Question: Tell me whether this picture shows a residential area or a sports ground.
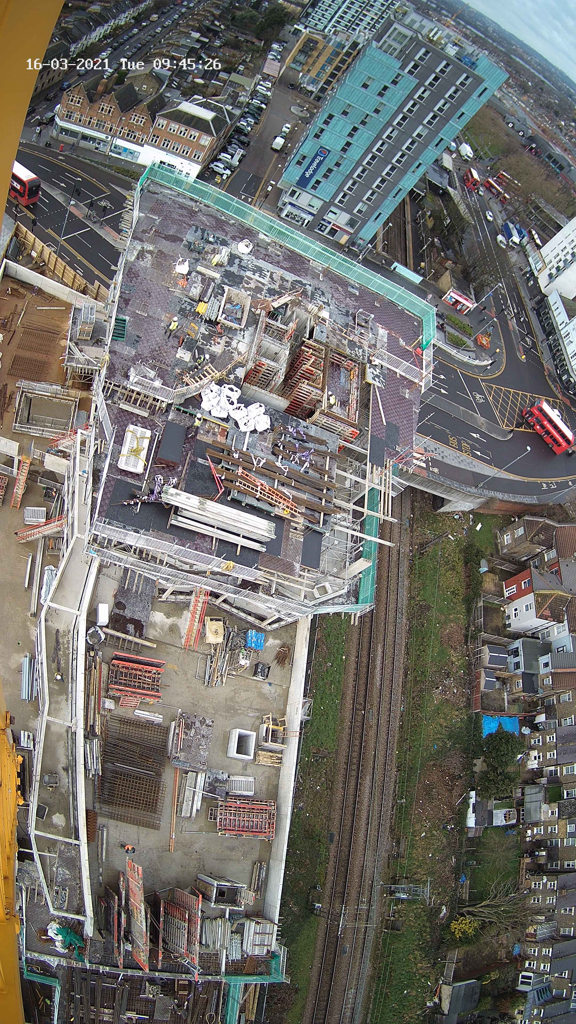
residential area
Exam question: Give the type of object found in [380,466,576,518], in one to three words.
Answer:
bridge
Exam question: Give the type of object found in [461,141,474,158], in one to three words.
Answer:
vehicle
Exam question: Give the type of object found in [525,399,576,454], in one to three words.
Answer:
bus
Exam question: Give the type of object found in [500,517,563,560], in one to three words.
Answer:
house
